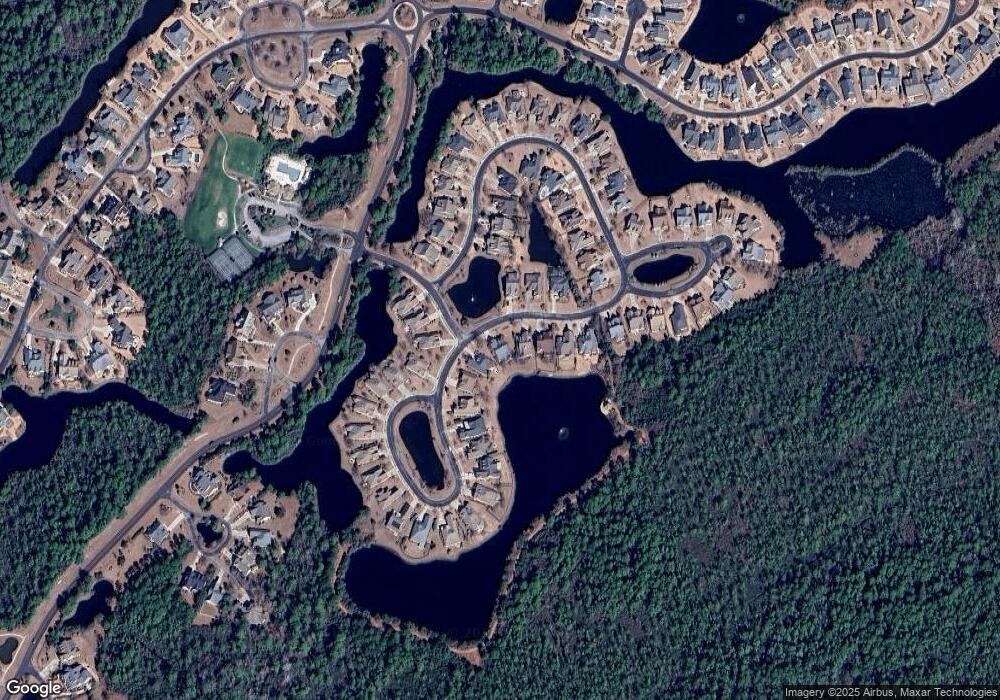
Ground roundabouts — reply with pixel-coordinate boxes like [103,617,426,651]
[382,0,429,46]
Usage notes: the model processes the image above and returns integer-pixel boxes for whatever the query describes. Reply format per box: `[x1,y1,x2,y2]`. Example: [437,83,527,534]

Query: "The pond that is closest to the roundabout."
[301,45,387,157]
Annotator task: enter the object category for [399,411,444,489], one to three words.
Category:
pond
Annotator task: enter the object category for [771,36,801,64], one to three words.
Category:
house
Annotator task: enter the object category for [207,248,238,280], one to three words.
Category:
tennis court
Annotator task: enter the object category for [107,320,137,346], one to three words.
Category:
house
